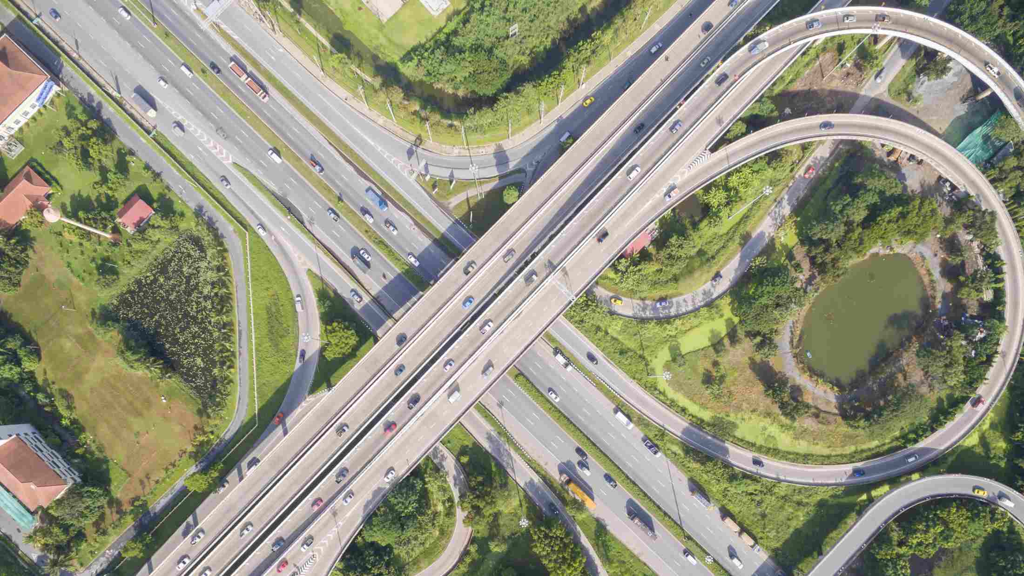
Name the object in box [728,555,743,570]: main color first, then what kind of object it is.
white car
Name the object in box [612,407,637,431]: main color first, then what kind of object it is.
white truck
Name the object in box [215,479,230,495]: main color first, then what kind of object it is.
gray car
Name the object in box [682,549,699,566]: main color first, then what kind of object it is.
white vehicle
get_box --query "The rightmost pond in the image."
[801,252,926,385]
